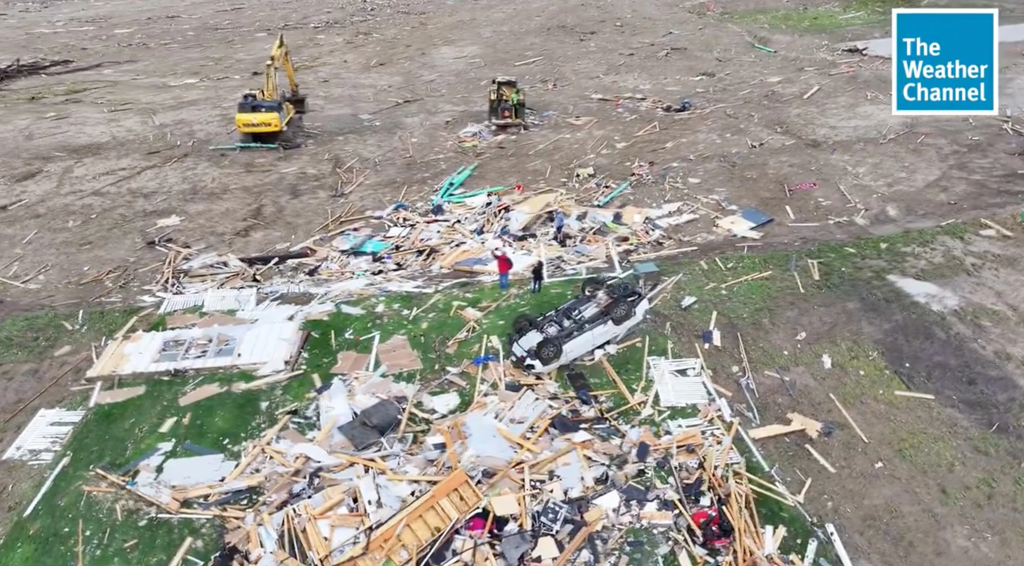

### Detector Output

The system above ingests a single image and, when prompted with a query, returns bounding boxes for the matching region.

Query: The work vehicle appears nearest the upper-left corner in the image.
[235,30,312,141]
